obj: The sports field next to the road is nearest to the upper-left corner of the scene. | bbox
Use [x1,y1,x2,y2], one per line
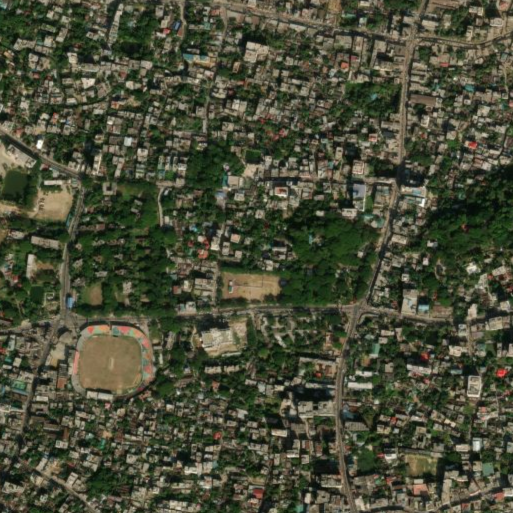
[37,189,73,221]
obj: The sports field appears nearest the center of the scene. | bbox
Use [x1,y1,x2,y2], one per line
[223,272,281,300]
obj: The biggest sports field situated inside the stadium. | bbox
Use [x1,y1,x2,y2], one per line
[78,336,141,396]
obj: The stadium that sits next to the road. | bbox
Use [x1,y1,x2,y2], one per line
[72,325,154,401]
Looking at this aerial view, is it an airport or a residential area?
residential area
